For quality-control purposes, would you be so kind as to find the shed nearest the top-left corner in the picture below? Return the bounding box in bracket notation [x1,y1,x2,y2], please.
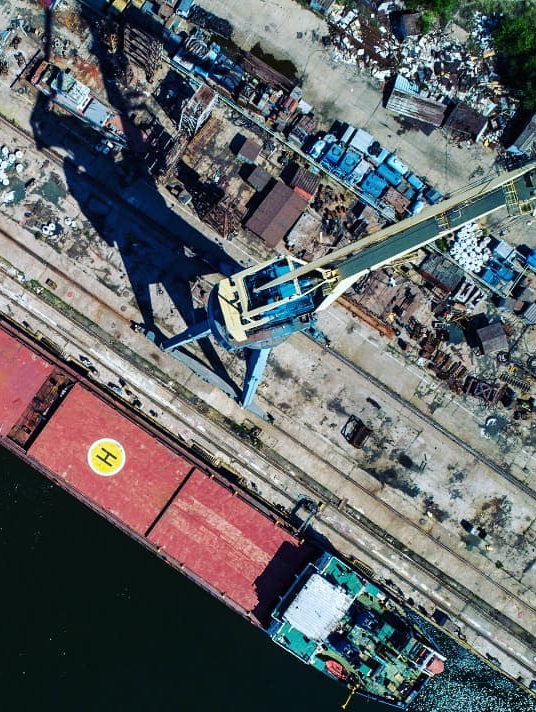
[235,137,263,168]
